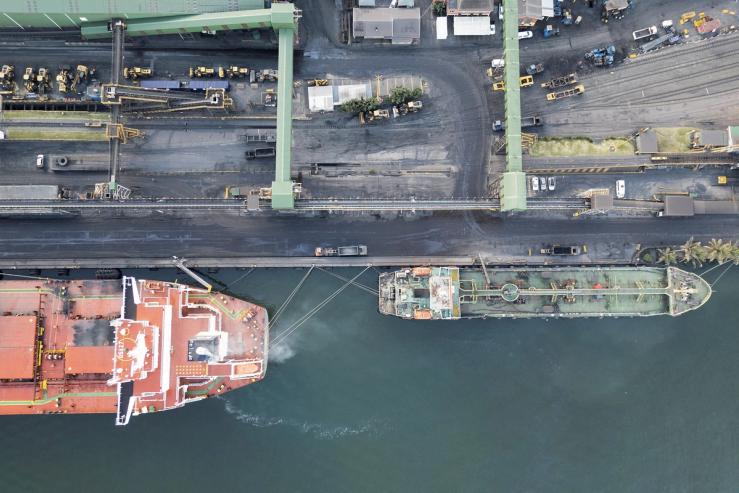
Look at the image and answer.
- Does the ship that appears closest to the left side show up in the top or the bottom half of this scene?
bottom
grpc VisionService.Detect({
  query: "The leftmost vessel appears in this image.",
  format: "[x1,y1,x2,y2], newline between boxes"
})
[0,276,270,424]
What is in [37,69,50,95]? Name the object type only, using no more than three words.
vehicle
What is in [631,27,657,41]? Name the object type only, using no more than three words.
vehicle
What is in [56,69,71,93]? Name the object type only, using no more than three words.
work vehicle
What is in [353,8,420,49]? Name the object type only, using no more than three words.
building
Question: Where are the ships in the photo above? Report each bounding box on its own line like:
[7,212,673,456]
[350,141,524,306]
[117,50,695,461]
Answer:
[0,276,270,424]
[377,266,712,319]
